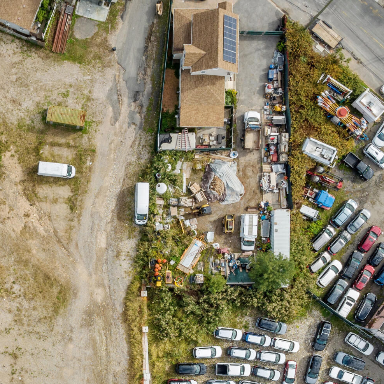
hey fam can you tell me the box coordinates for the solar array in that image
[224,8,238,62]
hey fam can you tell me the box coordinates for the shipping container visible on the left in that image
[46,105,87,131]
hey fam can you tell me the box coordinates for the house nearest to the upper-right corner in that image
[170,0,239,131]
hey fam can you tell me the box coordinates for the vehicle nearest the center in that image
[186,204,212,216]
